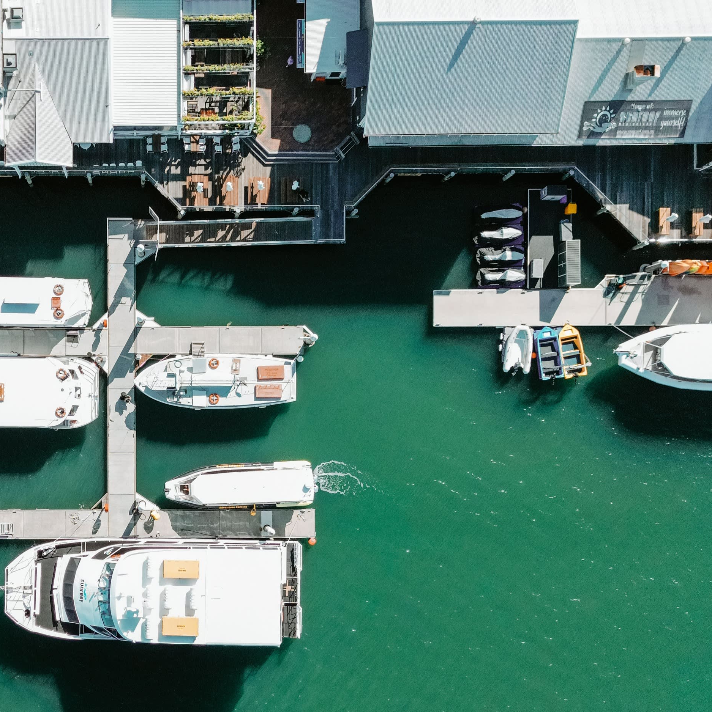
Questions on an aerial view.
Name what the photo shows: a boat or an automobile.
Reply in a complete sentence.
The one in the frame is a boat.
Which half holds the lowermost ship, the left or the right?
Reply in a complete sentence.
The lowermost ship is on the left side of the image.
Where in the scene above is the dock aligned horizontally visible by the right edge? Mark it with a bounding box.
[432,275,712,327]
